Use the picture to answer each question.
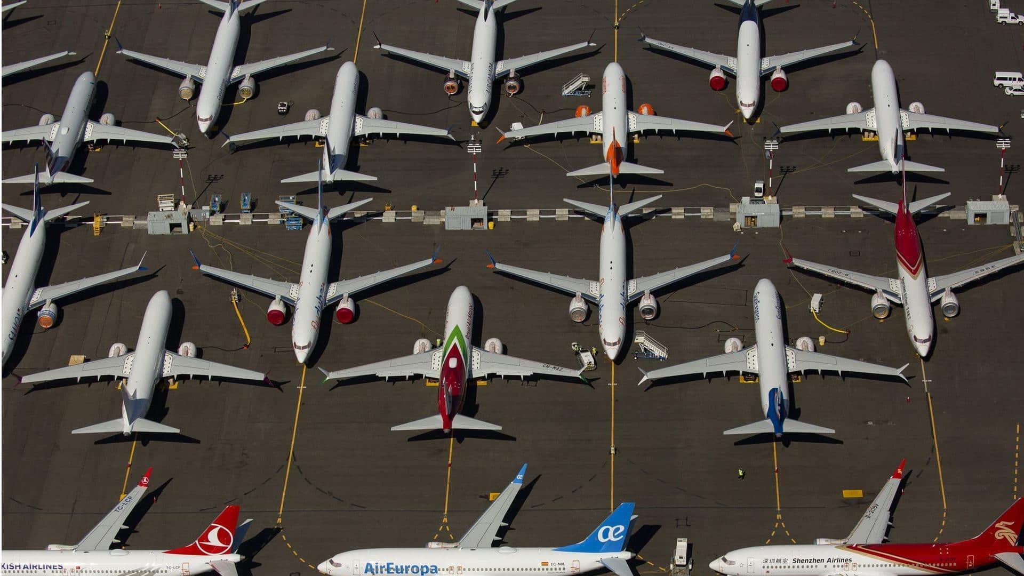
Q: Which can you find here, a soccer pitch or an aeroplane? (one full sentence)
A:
Visible in the photo is an aeroplane.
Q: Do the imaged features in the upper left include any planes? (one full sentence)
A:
Yes, in the upper left there is a plane.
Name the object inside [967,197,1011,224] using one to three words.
shed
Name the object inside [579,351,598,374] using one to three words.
vehicle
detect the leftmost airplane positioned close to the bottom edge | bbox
[0,467,253,576]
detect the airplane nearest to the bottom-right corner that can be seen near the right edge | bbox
[709,458,1024,576]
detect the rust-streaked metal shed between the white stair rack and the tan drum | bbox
[146,207,191,234]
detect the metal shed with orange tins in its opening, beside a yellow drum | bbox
[443,202,489,230]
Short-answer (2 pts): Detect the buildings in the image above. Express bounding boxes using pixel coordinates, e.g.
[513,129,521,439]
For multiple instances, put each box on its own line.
[967,197,1011,224]
[735,199,781,227]
[443,202,489,230]
[146,207,191,234]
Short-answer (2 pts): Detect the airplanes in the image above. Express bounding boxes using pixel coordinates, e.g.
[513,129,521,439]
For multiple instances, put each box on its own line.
[709,458,1024,576]
[638,280,909,438]
[782,152,1024,358]
[0,163,148,360]
[317,463,638,576]
[190,160,442,364]
[220,63,456,185]
[373,0,596,125]
[8,291,275,436]
[318,287,587,433]
[486,158,739,361]
[637,0,862,122]
[0,73,181,186]
[114,0,336,135]
[496,64,733,177]
[0,467,253,576]
[772,61,1010,174]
